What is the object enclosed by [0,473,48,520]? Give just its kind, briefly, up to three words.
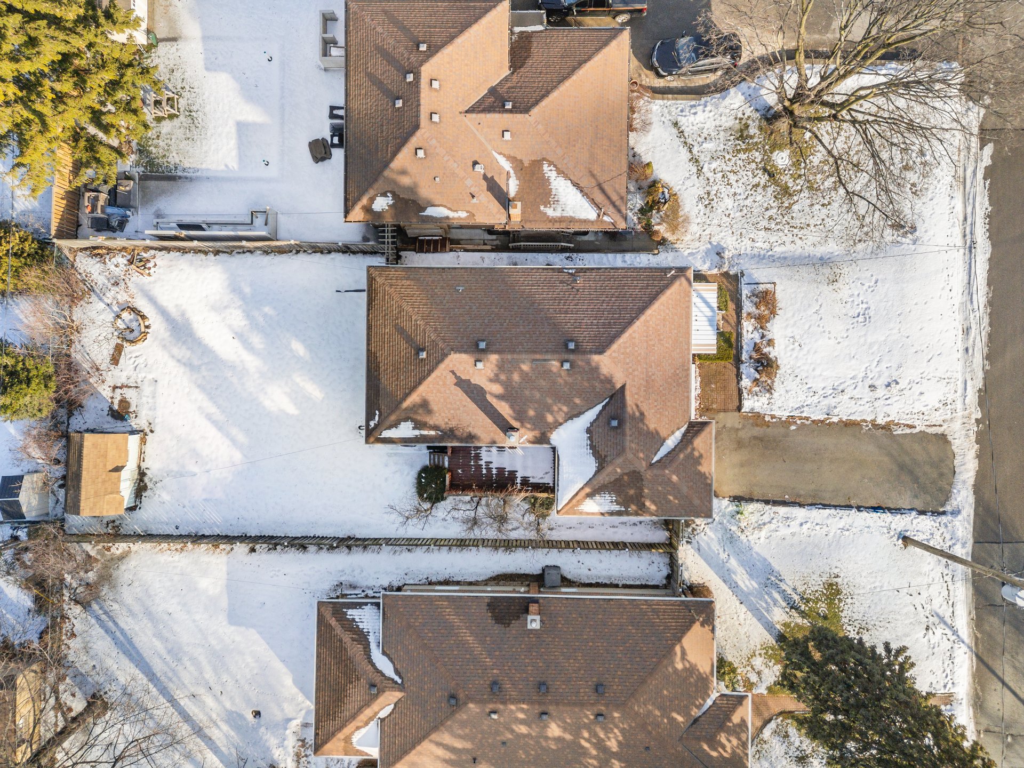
shed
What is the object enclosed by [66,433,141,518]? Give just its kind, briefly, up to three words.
shed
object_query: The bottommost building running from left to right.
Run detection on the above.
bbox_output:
[312,576,752,768]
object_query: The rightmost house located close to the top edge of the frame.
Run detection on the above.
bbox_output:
[342,0,632,233]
